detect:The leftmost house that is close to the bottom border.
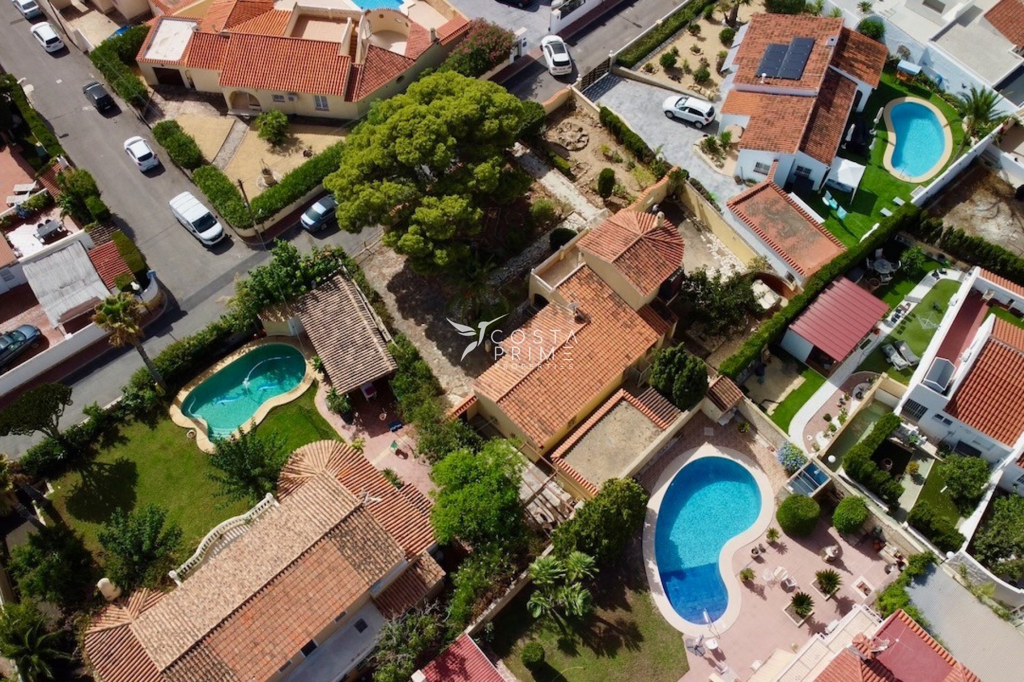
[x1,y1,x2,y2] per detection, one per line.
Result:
[83,438,446,682]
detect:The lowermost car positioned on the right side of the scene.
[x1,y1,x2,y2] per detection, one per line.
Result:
[655,91,723,131]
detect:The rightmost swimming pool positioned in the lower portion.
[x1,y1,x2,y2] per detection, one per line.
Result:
[641,444,776,639]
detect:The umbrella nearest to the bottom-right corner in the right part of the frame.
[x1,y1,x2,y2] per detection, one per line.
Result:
[685,632,709,658]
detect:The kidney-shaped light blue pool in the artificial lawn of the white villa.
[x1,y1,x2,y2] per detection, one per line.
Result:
[884,97,953,182]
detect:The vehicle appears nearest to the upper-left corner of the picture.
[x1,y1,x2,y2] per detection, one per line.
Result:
[4,0,45,27]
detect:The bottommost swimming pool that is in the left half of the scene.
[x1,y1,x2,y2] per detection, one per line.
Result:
[172,336,316,452]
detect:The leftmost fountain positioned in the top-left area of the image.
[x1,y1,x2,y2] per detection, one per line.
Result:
[251,164,286,193]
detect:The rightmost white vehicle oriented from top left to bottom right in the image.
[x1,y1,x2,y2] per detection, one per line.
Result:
[164,181,224,247]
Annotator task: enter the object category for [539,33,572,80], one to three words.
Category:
car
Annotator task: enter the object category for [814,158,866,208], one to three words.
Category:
gazebo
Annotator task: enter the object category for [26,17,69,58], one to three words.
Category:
car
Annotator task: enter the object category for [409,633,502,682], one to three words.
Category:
shed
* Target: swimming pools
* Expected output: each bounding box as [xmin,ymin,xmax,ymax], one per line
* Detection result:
[884,97,953,182]
[641,444,776,639]
[172,336,316,452]
[346,0,410,12]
